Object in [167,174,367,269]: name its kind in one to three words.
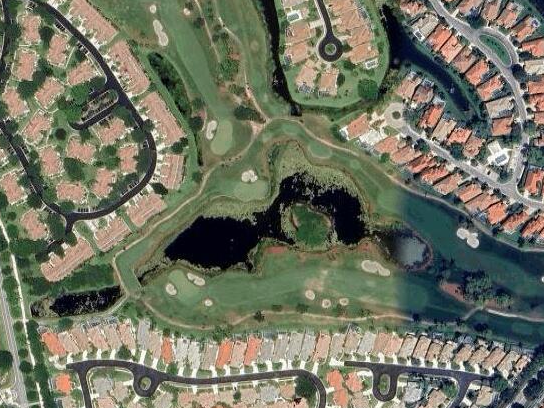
pond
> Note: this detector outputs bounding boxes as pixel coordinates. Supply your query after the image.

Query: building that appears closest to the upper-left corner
[21,15,40,41]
